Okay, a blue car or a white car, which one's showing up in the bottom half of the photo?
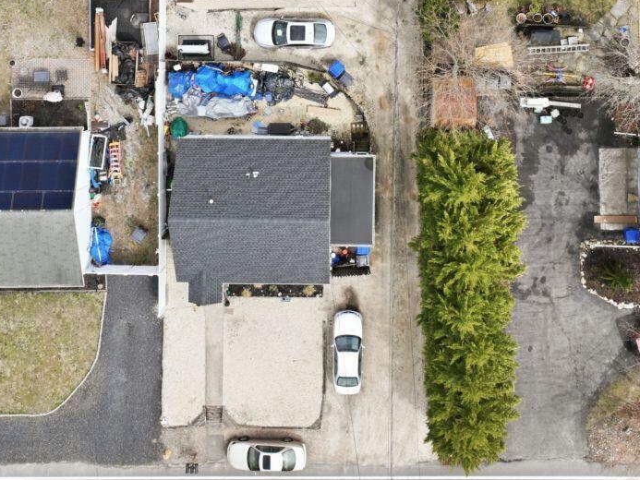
white car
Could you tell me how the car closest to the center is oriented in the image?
from top to bottom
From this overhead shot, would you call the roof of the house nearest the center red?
No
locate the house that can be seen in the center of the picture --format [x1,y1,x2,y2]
[168,136,374,305]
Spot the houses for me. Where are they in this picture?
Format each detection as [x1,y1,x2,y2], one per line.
[168,136,374,305]
[0,127,90,291]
